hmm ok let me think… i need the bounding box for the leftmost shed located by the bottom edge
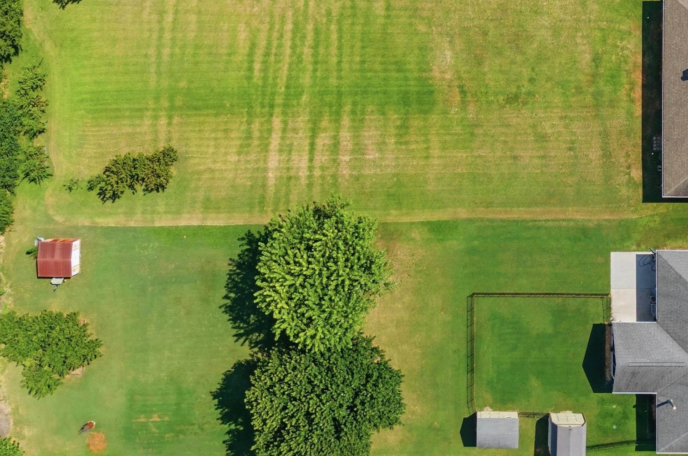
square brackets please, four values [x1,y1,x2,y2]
[477,412,519,448]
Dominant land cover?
grass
